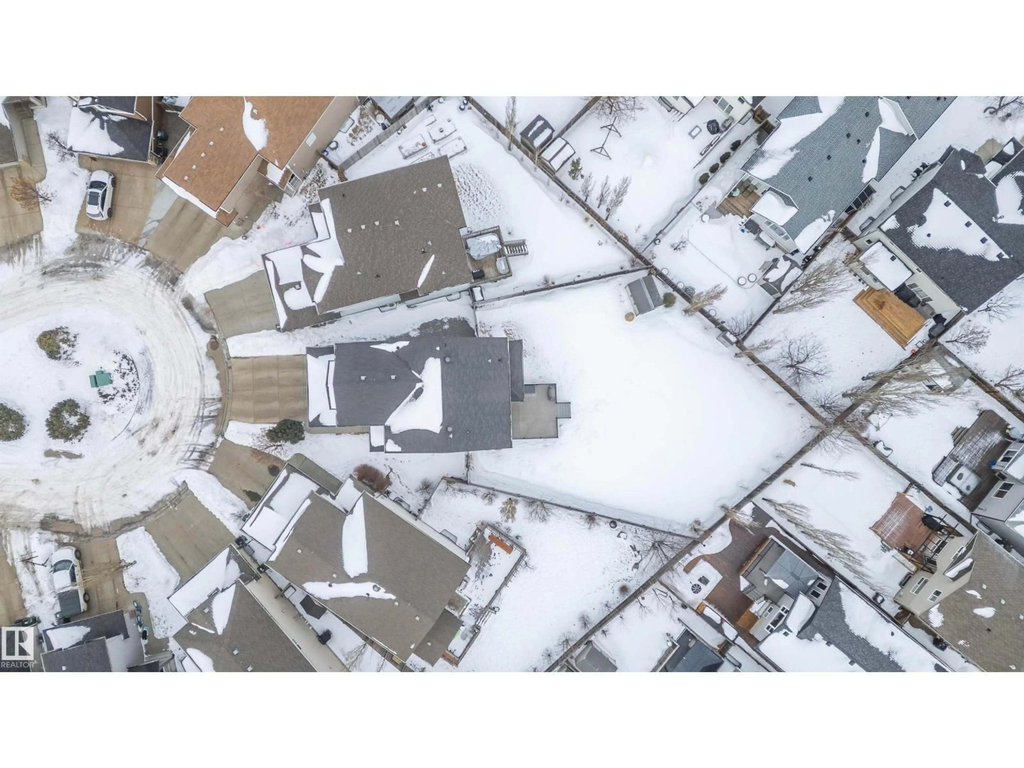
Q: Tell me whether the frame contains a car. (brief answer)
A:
Yes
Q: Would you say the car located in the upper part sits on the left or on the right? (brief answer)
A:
left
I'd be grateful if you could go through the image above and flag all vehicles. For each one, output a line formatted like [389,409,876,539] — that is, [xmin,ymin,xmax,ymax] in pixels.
[46,545,88,618]
[80,170,113,223]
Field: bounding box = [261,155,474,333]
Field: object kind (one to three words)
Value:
house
